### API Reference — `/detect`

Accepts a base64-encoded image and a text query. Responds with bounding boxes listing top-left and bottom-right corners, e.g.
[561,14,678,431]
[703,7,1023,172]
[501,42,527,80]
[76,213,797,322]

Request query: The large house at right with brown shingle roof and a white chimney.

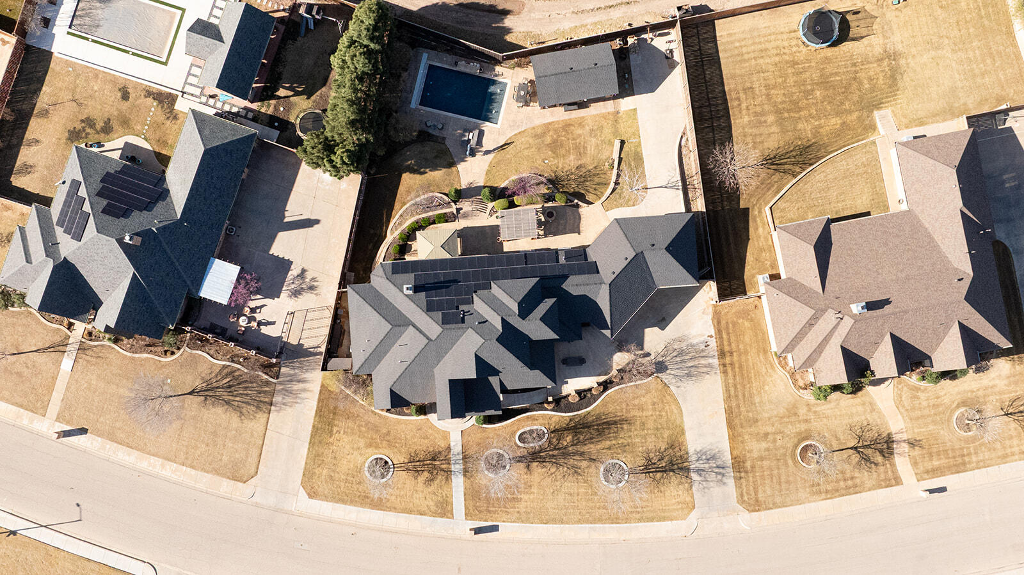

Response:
[757,127,1012,387]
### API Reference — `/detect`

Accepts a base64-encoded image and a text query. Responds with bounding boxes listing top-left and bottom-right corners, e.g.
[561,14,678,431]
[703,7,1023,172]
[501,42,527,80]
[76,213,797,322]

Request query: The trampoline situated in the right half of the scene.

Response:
[796,0,849,49]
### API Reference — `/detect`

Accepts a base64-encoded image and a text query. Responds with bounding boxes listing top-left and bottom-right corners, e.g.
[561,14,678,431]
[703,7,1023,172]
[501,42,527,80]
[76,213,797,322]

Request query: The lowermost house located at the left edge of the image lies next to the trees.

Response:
[0,107,258,339]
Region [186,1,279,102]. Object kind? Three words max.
building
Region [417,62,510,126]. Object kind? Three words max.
swimming pool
